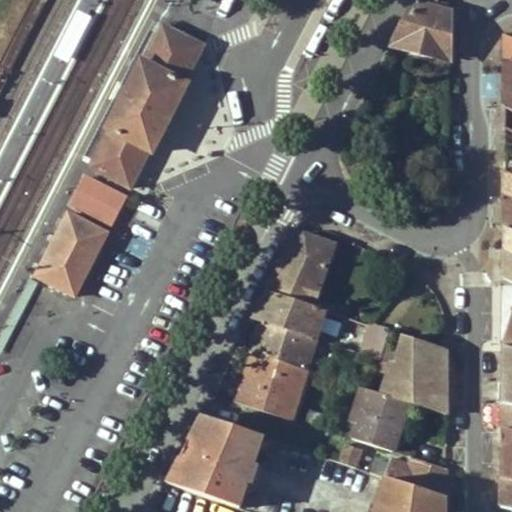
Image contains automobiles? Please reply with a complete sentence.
Yes, this view includes an automobile.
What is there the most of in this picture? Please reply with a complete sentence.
Most of the picture is covered by paved ground.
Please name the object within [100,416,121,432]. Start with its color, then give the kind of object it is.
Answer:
white car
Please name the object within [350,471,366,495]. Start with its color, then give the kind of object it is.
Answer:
white vehicle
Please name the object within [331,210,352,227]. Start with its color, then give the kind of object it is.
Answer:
white car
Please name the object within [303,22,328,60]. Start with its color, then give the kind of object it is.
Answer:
white vehicle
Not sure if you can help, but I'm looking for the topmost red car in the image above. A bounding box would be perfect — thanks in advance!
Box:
[166,282,186,298]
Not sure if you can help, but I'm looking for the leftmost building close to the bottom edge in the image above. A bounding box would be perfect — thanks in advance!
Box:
[165,413,264,511]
